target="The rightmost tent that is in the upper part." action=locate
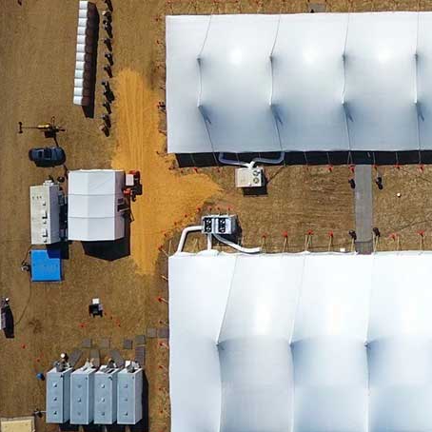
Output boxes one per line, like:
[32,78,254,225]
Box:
[157,1,432,172]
